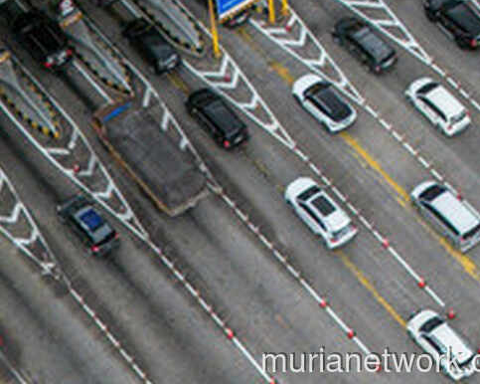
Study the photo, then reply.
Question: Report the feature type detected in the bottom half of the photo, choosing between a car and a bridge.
car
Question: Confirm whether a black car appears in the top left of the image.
Yes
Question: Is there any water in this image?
No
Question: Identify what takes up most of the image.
paved ground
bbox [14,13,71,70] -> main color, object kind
black car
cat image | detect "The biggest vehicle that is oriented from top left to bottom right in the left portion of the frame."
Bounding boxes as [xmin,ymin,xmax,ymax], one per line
[86,97,209,225]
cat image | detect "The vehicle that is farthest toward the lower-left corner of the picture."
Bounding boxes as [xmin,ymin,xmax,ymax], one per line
[61,198,119,259]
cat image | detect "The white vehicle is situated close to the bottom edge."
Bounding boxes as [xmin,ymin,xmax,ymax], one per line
[407,309,475,378]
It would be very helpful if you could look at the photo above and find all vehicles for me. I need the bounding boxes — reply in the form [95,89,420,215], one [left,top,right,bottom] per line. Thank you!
[333,16,397,75]
[188,91,248,149]
[14,13,71,70]
[220,6,257,37]
[289,184,350,244]
[407,309,475,378]
[86,97,209,225]
[412,184,480,250]
[407,83,467,139]
[122,20,182,76]
[426,0,480,49]
[61,198,119,259]
[294,76,352,132]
